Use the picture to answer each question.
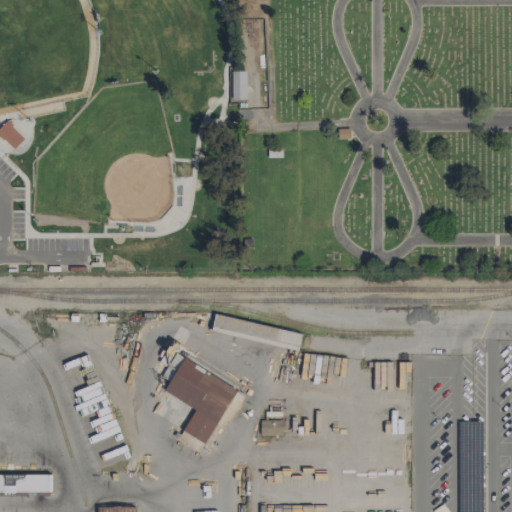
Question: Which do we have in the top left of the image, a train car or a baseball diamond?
baseball diamond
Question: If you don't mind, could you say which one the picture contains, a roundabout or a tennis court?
roundabout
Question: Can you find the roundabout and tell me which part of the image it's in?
top right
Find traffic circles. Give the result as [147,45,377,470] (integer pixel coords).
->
[353,96,403,144]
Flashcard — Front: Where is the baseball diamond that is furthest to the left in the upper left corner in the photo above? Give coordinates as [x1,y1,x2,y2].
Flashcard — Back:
[0,0,100,114]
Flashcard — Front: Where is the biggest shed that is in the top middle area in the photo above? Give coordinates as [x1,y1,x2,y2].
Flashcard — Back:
[233,71,248,100]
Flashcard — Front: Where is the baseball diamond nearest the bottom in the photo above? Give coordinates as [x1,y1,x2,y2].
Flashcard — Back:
[36,80,174,224]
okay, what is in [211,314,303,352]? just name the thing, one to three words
shed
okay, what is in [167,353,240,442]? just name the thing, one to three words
building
